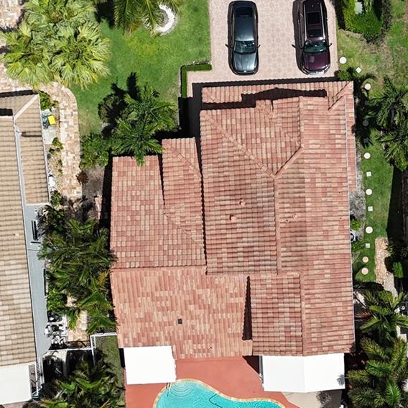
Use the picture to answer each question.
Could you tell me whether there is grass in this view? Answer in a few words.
Yes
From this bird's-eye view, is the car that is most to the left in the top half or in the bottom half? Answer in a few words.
top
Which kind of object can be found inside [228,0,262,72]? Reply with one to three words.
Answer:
car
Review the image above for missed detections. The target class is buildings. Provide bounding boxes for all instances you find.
[110,79,357,360]
[0,93,52,368]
